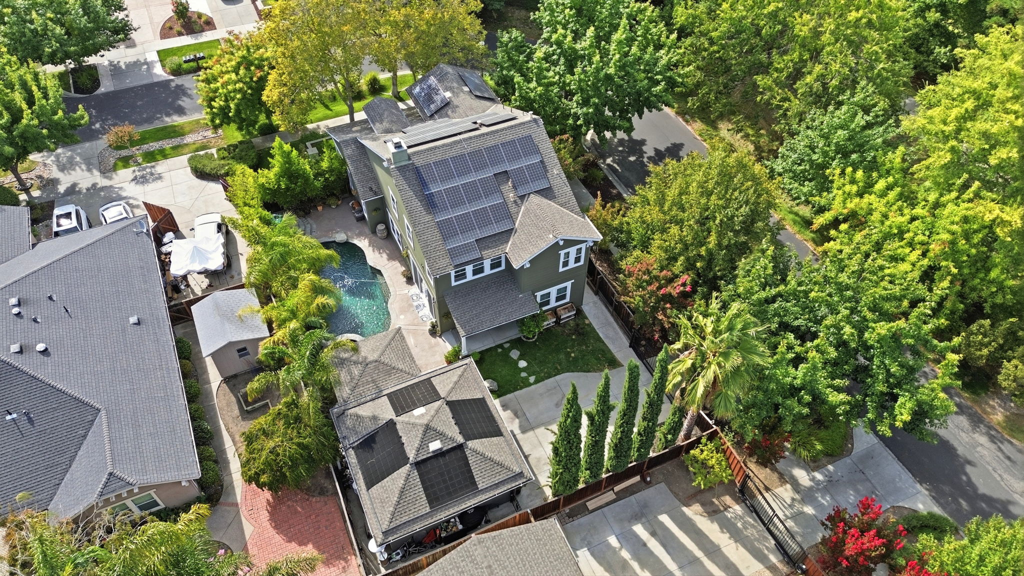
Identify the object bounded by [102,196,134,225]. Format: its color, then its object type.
white car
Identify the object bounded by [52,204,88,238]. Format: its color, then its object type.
white car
